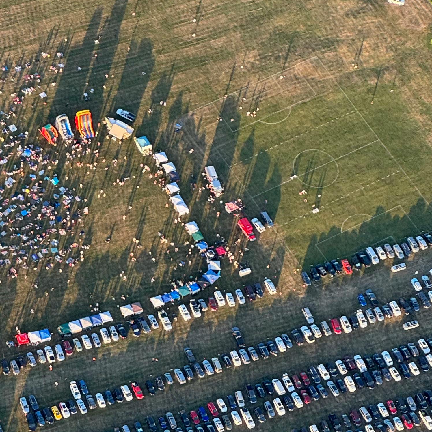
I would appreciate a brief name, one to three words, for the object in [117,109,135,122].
vehicle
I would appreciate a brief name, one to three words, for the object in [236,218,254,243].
vehicle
